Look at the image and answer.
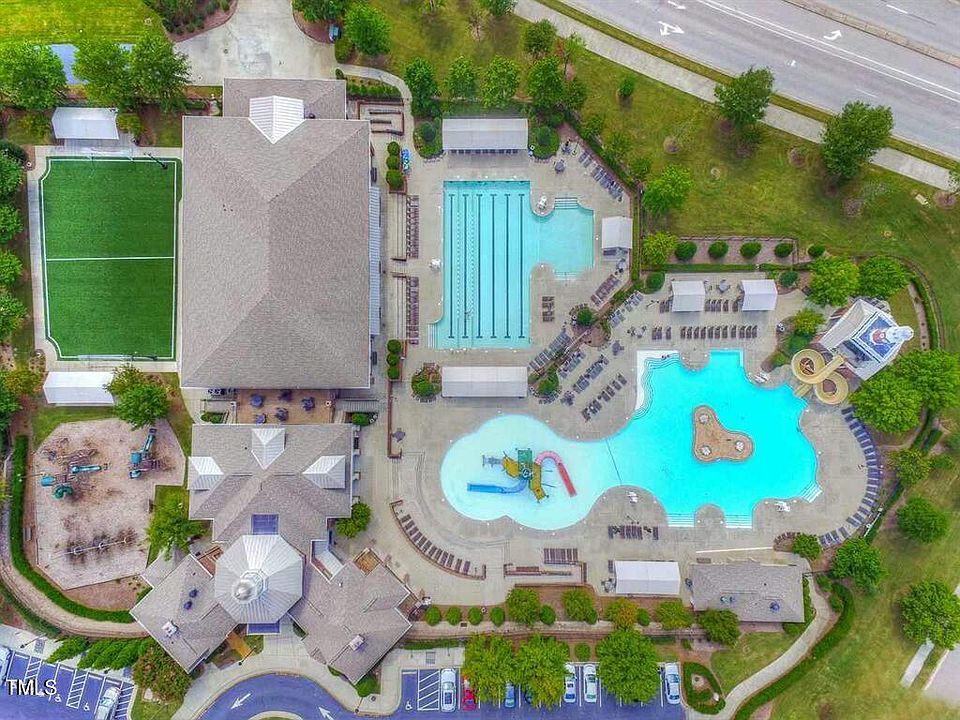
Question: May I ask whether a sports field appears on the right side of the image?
No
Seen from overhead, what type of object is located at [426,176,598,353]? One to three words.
swimming pool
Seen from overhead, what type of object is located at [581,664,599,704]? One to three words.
car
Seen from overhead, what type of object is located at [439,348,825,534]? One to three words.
swimming pool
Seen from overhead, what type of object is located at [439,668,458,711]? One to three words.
car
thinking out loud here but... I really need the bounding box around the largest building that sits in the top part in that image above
[179,79,382,389]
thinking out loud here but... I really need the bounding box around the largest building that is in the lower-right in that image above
[687,562,809,622]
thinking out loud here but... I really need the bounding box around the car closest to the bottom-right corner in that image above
[663,663,682,705]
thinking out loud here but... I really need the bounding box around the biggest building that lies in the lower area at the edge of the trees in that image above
[129,423,412,685]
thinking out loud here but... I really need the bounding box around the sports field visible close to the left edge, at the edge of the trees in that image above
[39,157,180,359]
